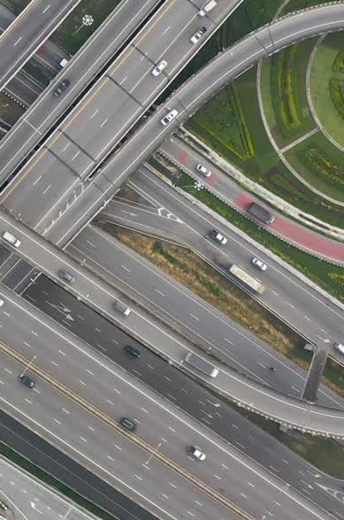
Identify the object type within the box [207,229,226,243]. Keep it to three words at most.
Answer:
vehicle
